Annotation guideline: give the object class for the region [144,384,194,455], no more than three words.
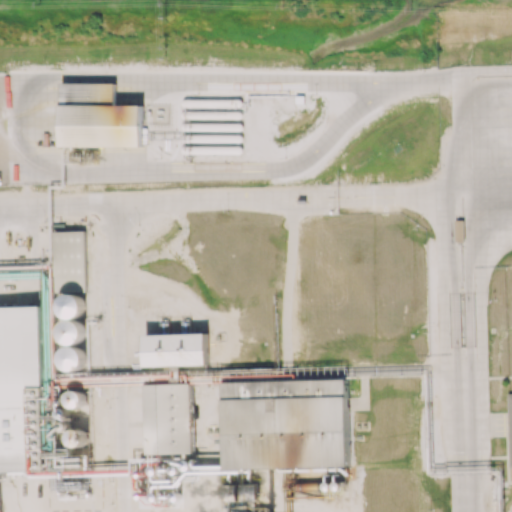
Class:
shed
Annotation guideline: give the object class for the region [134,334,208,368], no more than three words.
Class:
building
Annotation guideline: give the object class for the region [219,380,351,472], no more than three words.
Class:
building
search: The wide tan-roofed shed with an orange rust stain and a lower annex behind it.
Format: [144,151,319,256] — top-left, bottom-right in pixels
[54,84,144,148]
